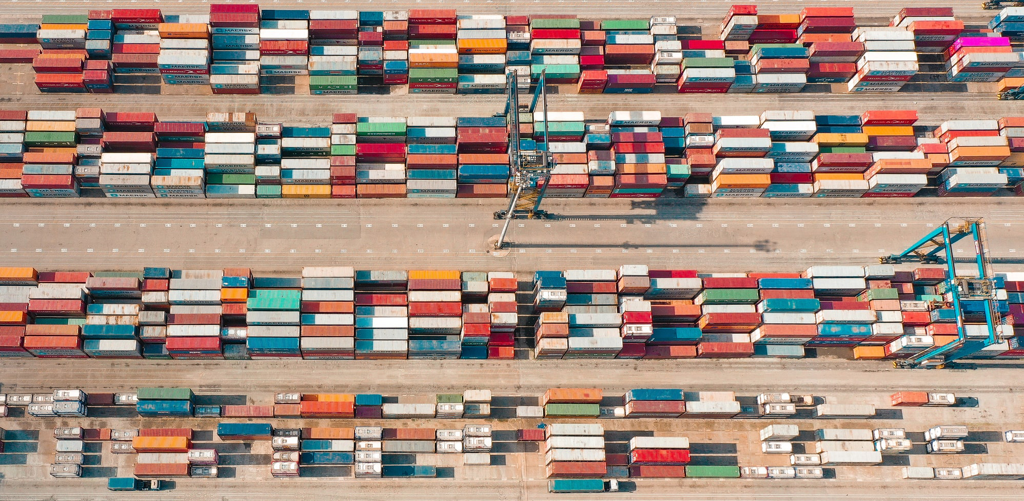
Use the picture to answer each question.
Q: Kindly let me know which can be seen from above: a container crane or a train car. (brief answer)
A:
container crane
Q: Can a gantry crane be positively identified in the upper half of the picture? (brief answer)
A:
Yes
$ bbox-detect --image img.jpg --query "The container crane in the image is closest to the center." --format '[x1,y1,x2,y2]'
[486,66,570,220]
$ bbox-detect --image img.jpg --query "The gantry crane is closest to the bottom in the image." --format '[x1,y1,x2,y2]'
[881,212,1009,371]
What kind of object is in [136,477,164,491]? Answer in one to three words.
vehicle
